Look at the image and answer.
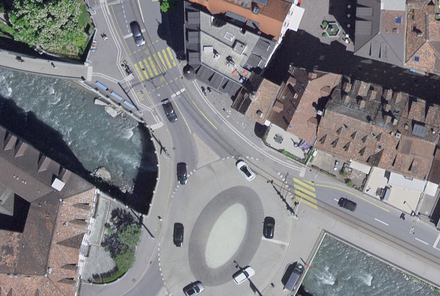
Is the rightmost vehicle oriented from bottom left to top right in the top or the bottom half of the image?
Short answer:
bottom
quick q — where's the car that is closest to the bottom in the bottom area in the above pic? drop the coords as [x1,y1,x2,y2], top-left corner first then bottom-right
[182,281,204,296]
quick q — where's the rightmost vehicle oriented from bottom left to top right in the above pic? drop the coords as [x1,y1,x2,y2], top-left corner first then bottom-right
[282,262,303,290]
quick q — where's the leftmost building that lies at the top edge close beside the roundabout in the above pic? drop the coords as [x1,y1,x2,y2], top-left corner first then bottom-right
[180,0,306,100]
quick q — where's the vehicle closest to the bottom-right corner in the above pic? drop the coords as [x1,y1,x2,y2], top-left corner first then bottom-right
[336,196,357,212]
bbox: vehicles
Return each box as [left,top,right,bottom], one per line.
[336,196,357,212]
[231,266,254,284]
[176,162,187,184]
[262,216,274,239]
[172,223,182,246]
[282,262,303,290]
[235,160,255,181]
[182,281,204,296]
[160,98,178,122]
[128,20,146,45]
